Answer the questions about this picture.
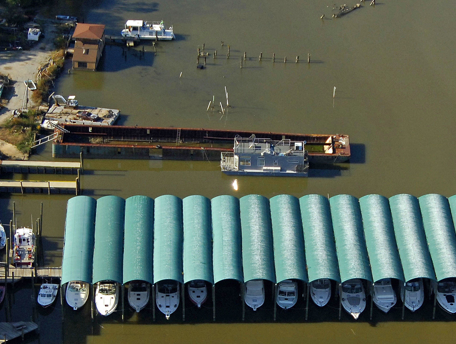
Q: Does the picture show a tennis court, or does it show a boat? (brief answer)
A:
boat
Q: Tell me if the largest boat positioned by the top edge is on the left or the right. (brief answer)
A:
left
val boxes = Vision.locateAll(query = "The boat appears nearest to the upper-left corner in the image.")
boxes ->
[28,22,40,42]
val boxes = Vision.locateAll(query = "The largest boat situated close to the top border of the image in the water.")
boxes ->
[123,9,178,41]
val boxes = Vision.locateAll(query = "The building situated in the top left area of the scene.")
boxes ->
[71,20,105,73]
